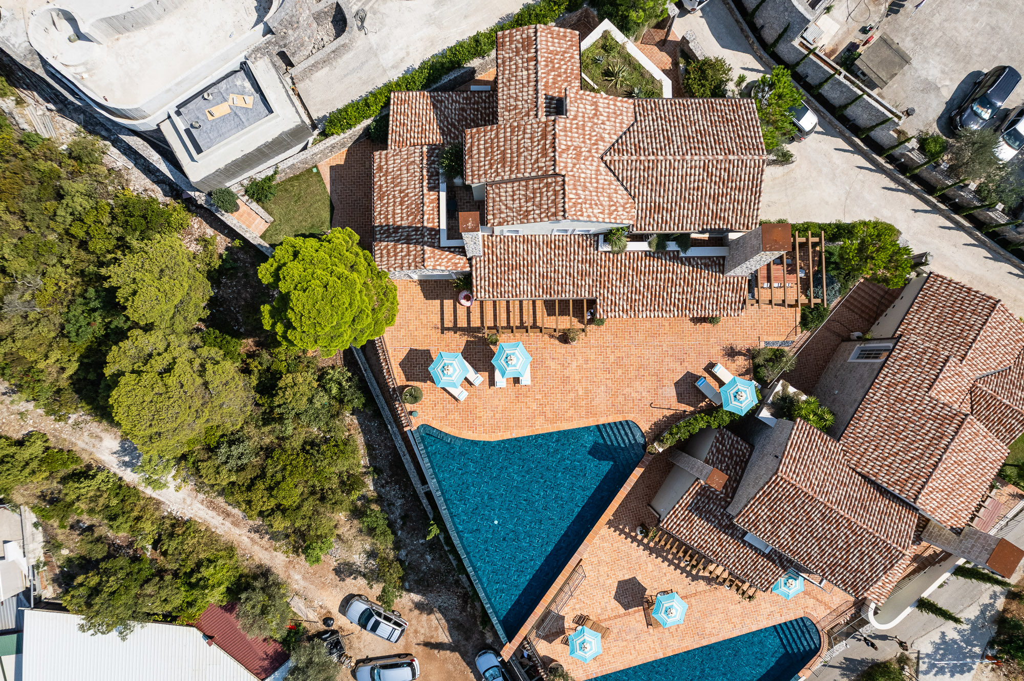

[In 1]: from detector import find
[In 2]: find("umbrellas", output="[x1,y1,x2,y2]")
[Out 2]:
[491,340,533,378]
[569,624,602,662]
[772,568,802,601]
[714,375,755,416]
[652,588,686,626]
[429,351,471,389]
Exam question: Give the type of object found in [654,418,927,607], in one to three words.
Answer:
house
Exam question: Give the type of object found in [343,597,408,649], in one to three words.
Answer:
car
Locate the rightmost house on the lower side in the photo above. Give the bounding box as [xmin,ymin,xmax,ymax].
[807,272,1024,579]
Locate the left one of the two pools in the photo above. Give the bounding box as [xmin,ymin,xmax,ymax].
[415,421,645,639]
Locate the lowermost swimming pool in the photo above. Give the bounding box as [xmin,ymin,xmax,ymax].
[588,619,820,681]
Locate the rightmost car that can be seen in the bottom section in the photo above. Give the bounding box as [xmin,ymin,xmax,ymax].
[472,647,510,681]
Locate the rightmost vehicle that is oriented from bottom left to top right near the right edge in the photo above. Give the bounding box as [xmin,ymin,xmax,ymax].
[948,54,1024,138]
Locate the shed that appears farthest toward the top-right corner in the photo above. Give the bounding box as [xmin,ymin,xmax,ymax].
[847,34,911,95]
